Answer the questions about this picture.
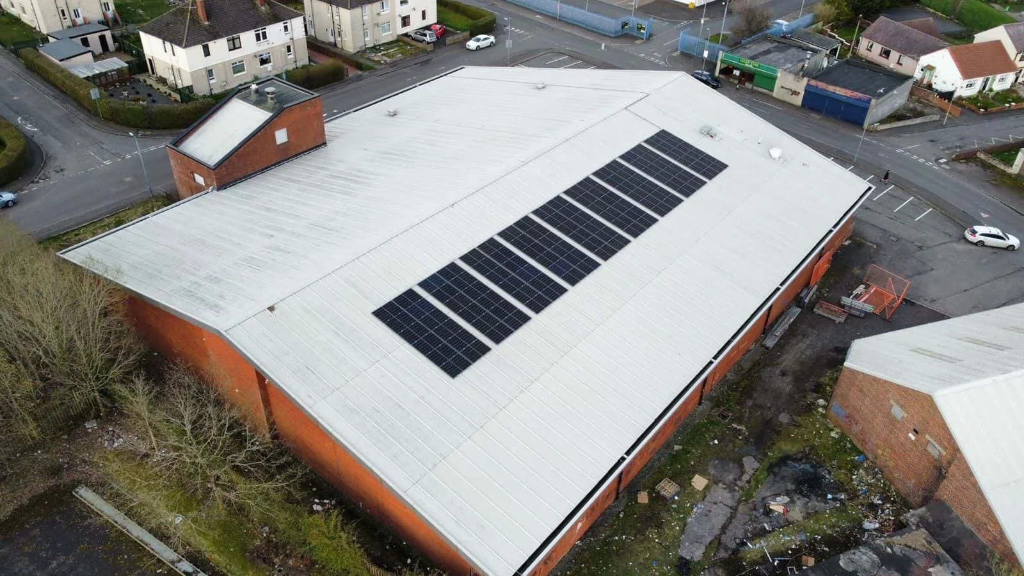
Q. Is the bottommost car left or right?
right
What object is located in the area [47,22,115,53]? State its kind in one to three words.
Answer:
shed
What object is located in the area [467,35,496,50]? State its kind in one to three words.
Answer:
car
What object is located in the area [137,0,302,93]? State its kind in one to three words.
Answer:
house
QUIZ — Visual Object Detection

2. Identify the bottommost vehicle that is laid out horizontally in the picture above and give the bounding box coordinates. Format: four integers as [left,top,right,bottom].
[966,225,1024,251]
